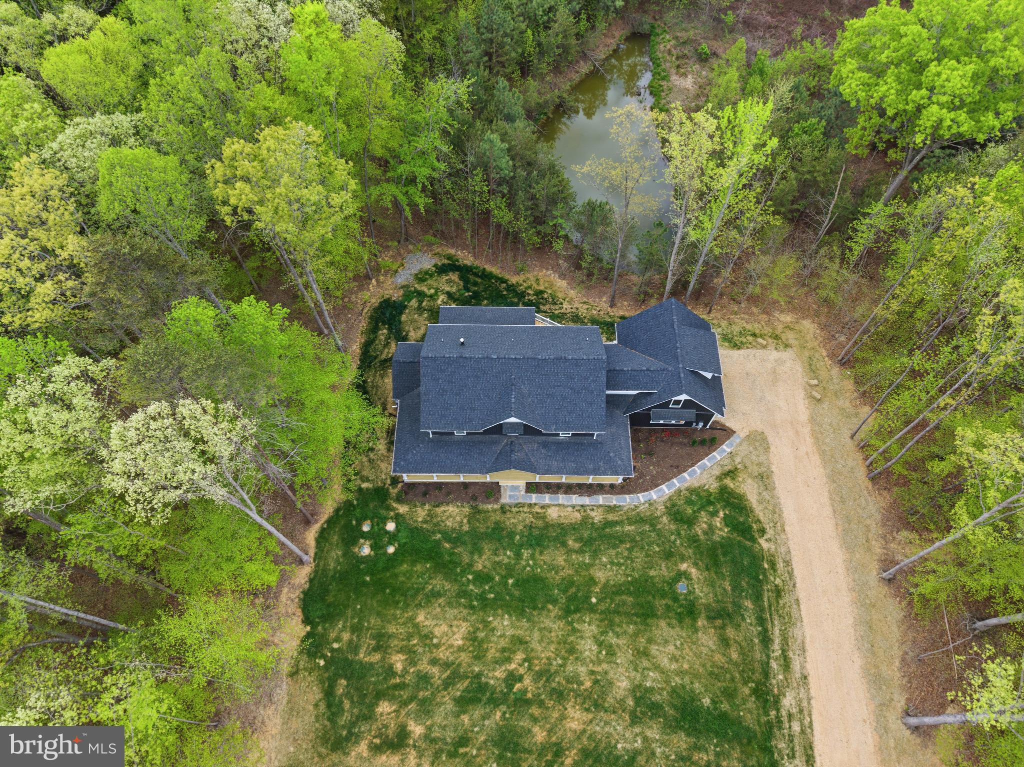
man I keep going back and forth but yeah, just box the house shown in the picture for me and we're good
[390,299,724,489]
